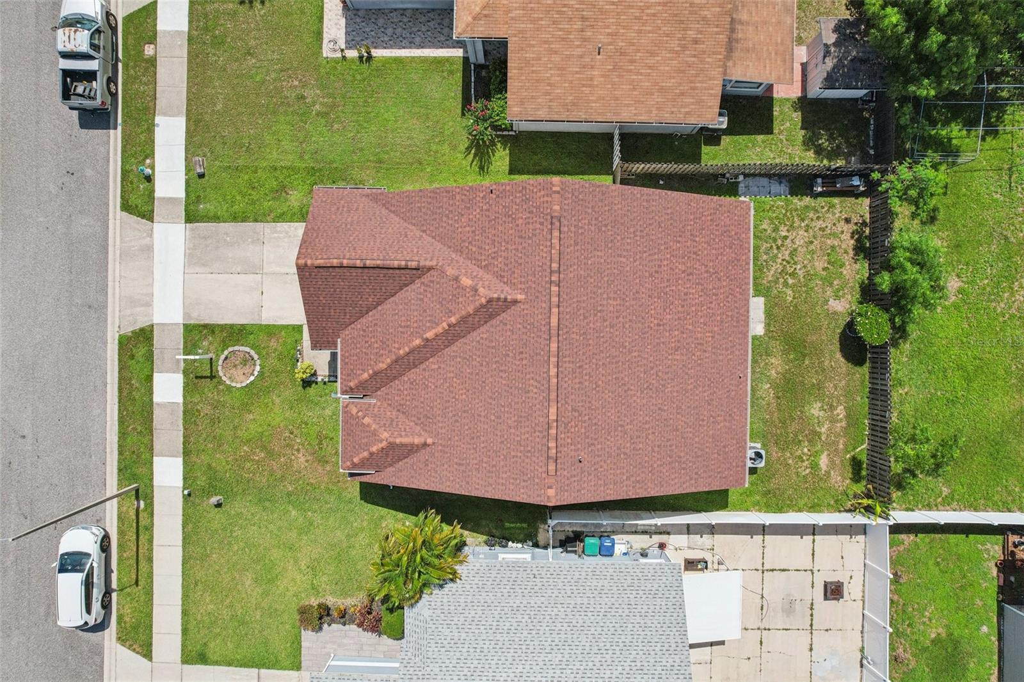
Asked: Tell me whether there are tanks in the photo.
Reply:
No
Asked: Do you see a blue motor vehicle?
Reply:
No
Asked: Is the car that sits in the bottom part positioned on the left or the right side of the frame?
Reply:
left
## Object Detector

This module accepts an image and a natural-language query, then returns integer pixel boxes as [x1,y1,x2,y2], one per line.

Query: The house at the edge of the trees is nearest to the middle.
[296,178,754,505]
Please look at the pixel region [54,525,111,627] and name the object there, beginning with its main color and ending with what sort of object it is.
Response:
white car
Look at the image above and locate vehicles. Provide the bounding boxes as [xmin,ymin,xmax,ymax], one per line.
[54,525,111,627]
[54,0,118,115]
